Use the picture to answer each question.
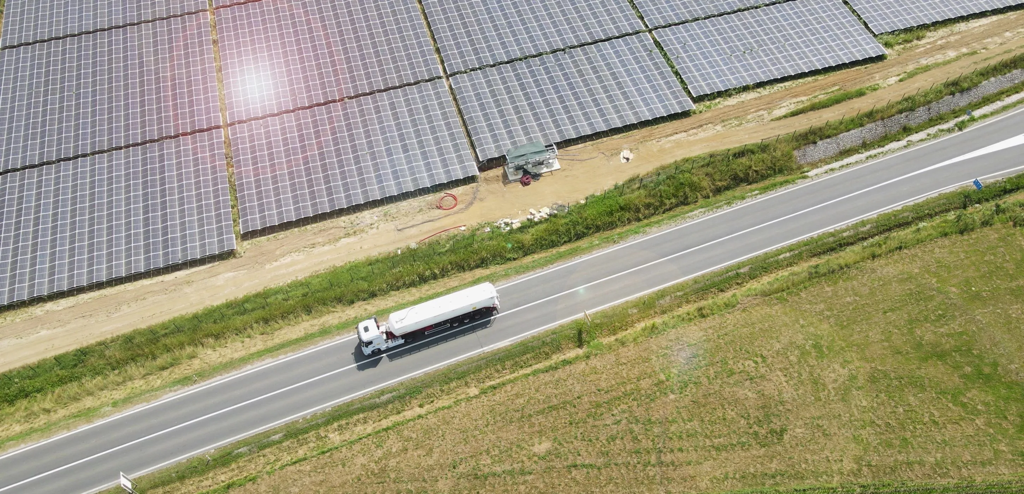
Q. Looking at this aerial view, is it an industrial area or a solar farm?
solar farm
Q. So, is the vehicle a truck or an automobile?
truck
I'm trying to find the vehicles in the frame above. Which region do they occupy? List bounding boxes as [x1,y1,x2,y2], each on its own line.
[354,282,499,355]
